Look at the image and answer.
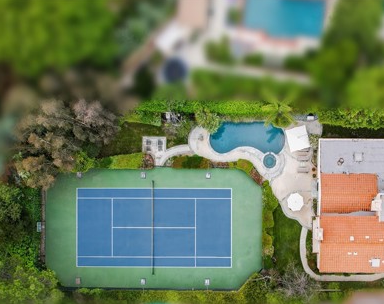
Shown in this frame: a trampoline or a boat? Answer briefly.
trampoline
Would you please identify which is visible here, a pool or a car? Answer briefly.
pool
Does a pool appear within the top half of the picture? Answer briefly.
Yes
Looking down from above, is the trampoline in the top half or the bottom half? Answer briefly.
top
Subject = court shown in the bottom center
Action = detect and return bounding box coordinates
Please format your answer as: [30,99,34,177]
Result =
[45,168,261,289]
